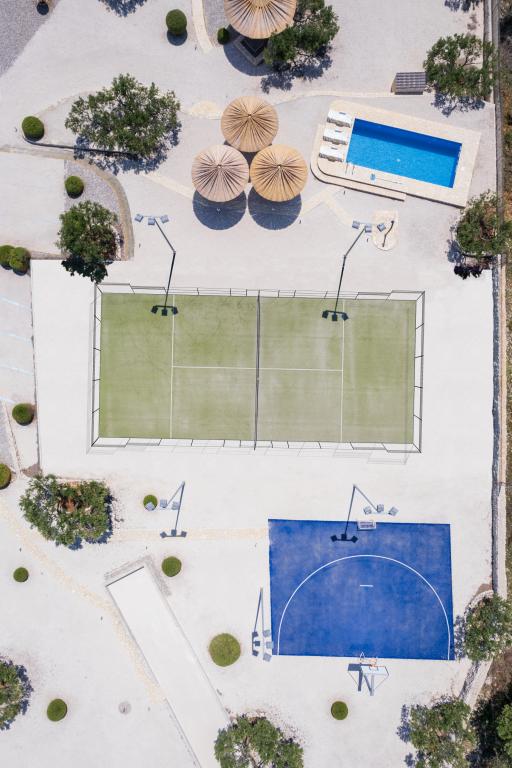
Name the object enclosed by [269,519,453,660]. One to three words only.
basketball court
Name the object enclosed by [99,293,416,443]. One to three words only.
tennis court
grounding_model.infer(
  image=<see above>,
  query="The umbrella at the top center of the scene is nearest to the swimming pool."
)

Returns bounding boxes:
[250,146,308,205]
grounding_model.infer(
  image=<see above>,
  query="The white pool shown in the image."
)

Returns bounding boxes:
[310,101,480,208]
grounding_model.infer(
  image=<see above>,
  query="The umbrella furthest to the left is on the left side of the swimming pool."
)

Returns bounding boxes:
[192,144,249,203]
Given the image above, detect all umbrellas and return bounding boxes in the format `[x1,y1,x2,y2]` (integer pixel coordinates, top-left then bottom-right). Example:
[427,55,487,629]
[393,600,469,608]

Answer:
[221,96,278,154]
[192,144,249,203]
[223,0,298,43]
[250,146,308,205]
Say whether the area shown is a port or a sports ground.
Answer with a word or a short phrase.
sports ground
